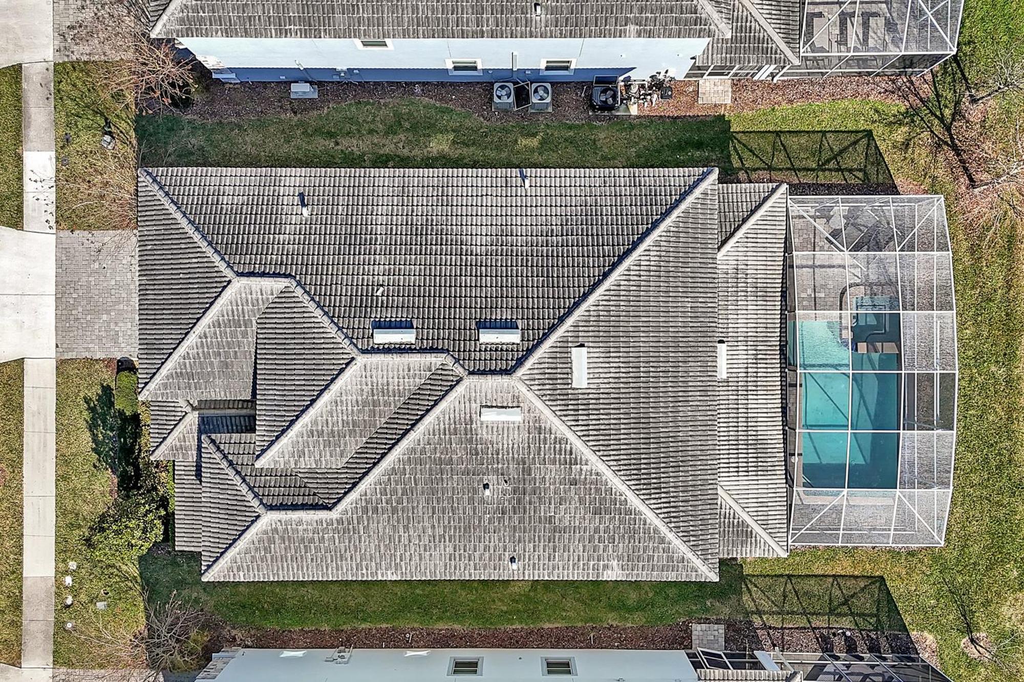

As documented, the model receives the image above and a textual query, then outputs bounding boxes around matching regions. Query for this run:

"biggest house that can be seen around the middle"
[135,166,789,584]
